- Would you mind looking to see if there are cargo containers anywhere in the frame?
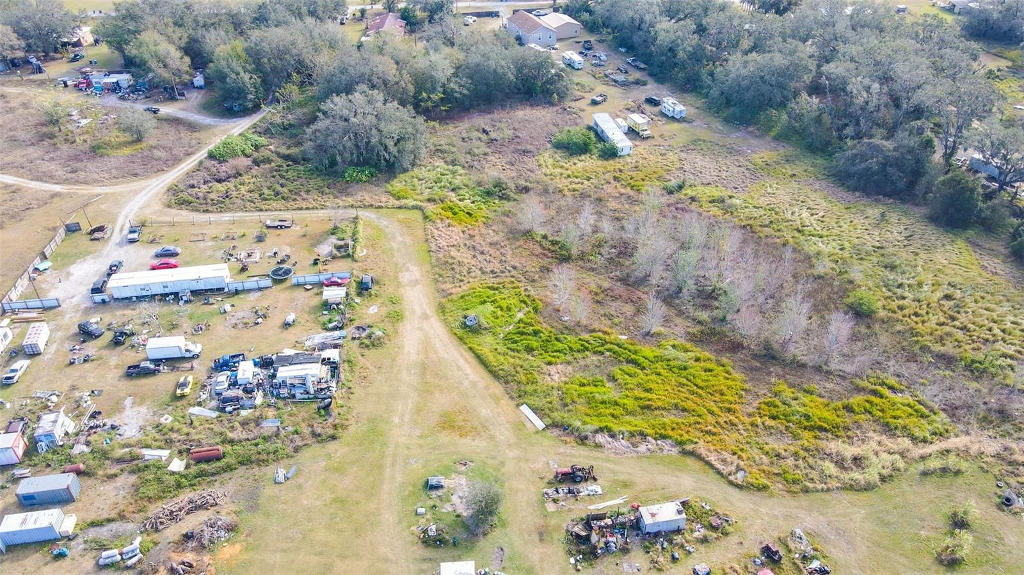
Yes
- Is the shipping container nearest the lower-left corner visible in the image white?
Yes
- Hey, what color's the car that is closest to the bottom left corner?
white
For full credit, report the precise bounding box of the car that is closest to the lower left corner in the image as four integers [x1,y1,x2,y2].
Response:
[0,357,37,384]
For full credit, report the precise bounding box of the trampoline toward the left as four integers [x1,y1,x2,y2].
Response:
[268,269,294,285]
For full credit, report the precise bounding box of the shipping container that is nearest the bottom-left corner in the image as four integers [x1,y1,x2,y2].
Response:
[0,504,69,553]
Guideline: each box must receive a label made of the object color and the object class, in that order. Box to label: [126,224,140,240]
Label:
white vehicle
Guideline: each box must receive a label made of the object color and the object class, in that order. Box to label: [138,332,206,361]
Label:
white truck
